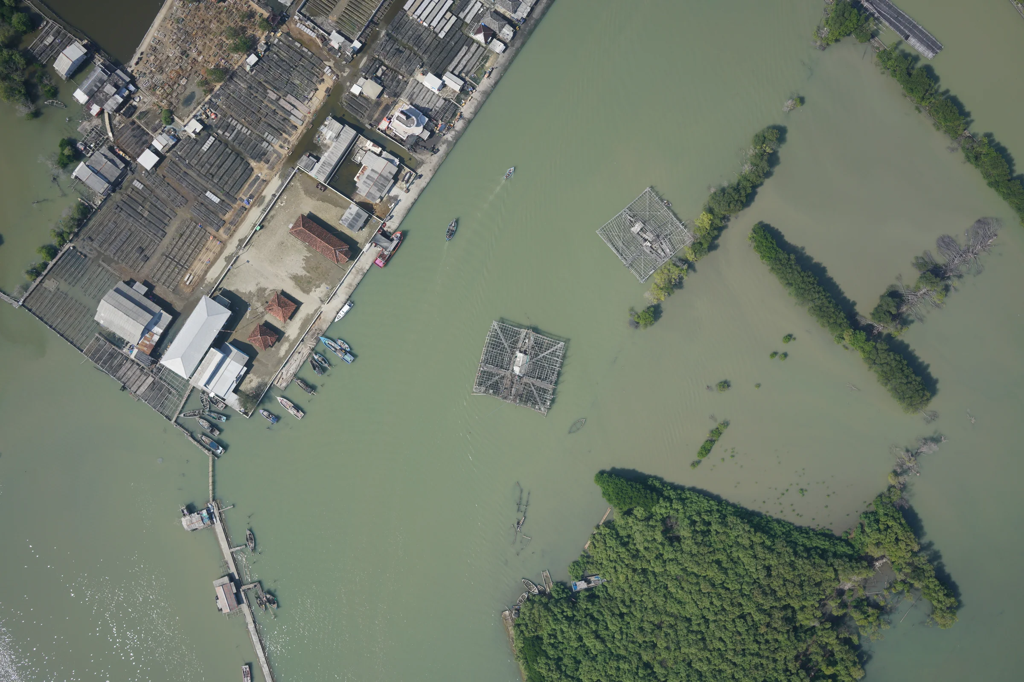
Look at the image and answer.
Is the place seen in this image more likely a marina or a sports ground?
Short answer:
marina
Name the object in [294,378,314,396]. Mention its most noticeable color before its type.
gray boat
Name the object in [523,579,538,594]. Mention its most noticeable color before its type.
gray boat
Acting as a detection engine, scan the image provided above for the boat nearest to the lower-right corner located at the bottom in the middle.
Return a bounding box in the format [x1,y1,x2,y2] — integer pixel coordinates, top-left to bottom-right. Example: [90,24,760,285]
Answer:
[572,578,606,591]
